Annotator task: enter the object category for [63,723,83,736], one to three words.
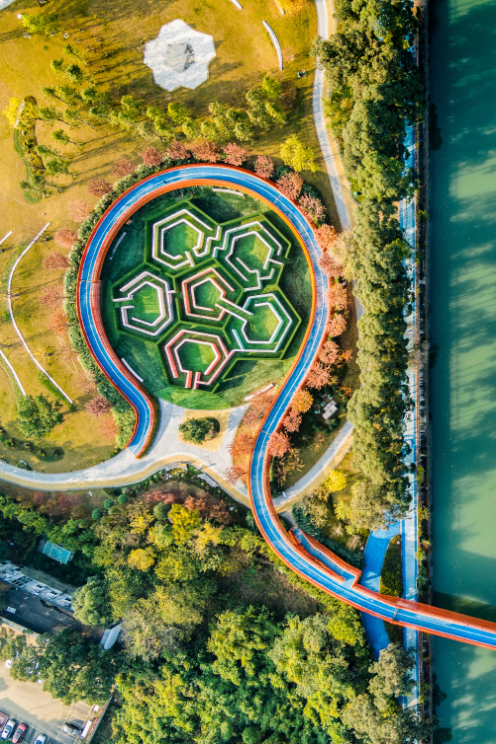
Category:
vehicle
